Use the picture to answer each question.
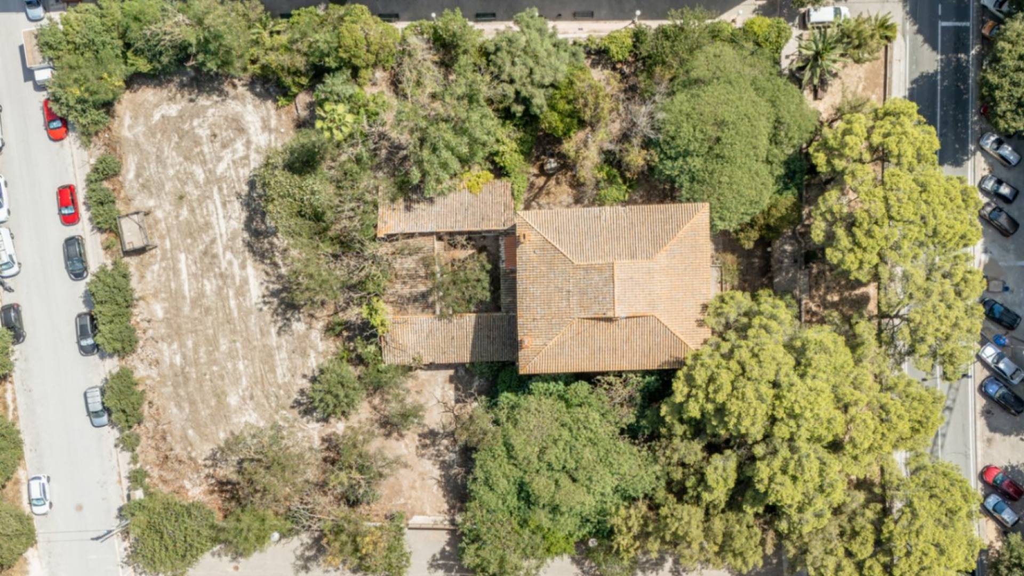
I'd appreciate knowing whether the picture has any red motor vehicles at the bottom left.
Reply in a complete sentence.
No, no red motor vehicle can be made out at the bottom left.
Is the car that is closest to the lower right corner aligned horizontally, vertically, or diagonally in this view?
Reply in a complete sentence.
I'd say the car that is closest to the lower right corner is aligned diagonally in the picture.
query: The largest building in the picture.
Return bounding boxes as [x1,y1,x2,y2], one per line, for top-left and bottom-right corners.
[516,201,713,375]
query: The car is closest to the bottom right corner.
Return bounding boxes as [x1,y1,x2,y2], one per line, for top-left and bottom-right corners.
[980,492,1020,528]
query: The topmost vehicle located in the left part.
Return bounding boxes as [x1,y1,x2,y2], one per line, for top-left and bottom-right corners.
[22,0,47,21]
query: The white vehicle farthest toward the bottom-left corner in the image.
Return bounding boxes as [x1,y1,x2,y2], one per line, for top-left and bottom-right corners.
[28,474,52,515]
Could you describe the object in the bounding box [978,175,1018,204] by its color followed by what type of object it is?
gray car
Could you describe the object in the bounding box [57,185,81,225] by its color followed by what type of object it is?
red car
